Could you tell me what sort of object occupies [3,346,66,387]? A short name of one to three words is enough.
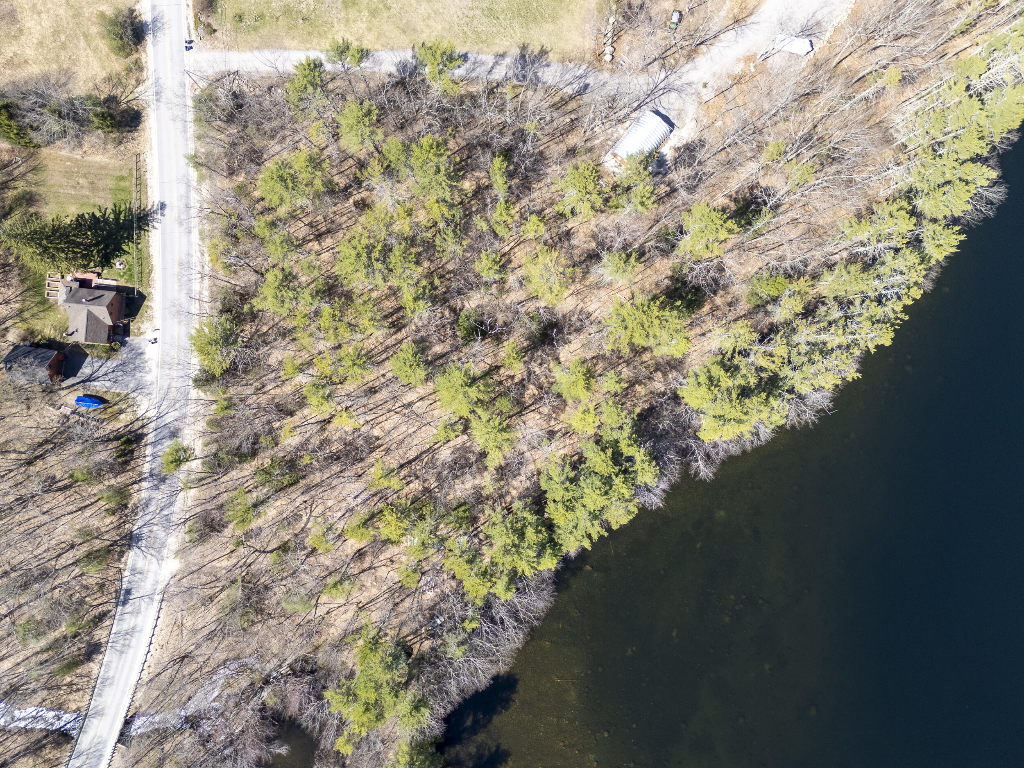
building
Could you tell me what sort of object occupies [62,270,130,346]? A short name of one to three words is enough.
house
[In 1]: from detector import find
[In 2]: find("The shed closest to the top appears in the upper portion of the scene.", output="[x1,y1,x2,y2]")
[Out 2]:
[607,104,669,168]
